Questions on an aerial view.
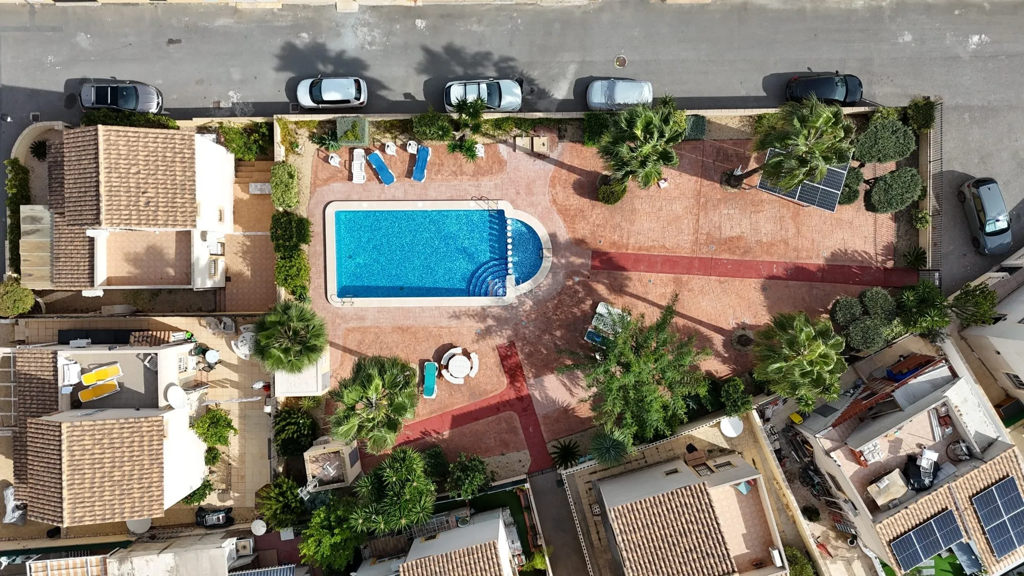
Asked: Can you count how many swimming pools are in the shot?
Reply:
1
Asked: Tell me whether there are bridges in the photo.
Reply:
No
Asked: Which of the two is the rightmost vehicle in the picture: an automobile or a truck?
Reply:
automobile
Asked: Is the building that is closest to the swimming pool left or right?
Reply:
left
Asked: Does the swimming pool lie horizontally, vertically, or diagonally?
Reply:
horizontally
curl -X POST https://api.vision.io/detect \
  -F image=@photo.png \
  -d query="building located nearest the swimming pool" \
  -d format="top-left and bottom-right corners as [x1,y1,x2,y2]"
[274,347,336,397]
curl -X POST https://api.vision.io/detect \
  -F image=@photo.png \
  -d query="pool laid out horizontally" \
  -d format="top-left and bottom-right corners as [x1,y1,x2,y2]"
[325,201,552,306]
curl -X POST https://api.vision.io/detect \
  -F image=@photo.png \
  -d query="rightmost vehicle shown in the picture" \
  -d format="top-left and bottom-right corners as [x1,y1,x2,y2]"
[956,181,1009,251]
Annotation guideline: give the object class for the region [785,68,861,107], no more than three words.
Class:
car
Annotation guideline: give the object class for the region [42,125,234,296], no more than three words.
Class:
house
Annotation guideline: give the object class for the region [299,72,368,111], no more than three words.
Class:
car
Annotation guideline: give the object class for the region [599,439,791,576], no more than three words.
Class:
house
